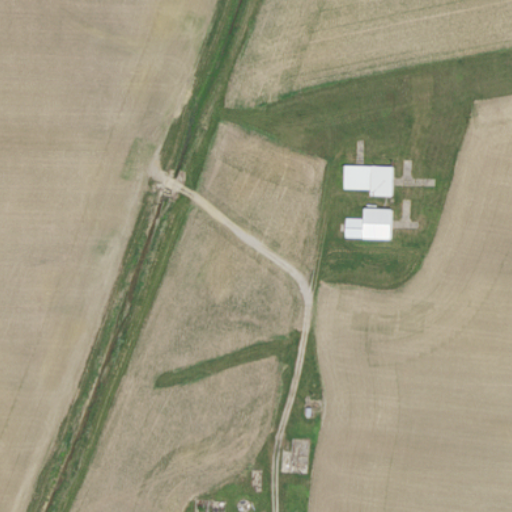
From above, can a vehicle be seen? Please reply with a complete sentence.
No, the scene contains no vehicle.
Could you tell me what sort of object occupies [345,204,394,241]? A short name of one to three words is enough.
barn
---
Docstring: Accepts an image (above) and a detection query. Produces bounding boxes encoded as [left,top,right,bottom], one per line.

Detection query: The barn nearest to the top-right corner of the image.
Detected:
[345,164,394,196]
